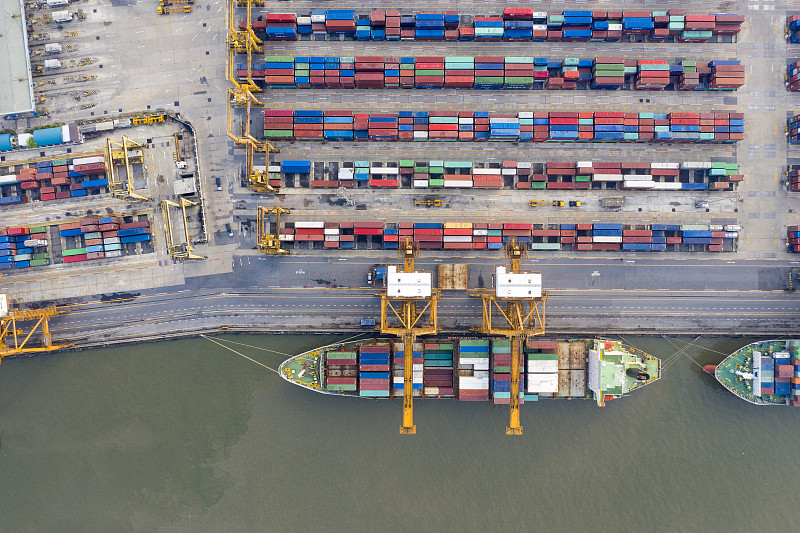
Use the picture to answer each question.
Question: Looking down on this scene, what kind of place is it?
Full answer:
The picture captures a port.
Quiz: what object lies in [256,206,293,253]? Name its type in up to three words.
container crane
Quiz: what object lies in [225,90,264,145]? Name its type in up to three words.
container crane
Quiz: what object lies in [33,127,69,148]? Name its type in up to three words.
shed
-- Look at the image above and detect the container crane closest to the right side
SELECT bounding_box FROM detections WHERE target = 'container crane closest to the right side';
[469,234,545,436]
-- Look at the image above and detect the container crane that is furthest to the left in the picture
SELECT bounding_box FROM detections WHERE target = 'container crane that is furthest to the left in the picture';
[0,262,75,369]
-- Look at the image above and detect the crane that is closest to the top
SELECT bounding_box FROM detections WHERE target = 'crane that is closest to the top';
[227,0,265,44]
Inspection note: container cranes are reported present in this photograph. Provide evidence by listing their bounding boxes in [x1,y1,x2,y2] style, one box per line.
[160,195,209,258]
[227,33,265,92]
[372,233,443,436]
[0,262,75,369]
[227,0,265,44]
[225,90,264,145]
[469,234,545,436]
[102,134,156,202]
[245,141,283,193]
[256,206,293,253]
